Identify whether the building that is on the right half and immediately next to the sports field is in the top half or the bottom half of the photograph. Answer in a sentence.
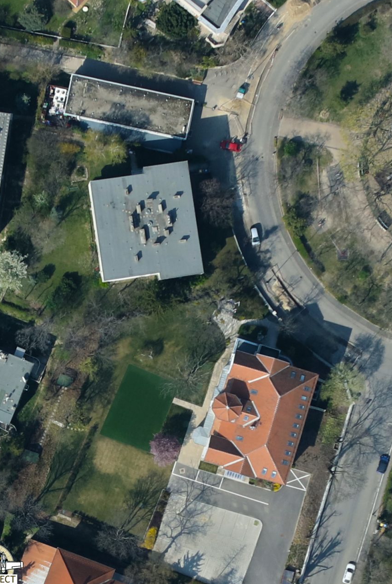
It is in the bottom half that the building that is on the right half and immediately next to the sports field appears.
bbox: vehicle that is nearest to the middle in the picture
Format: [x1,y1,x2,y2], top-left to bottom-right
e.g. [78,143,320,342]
[249,225,262,248]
